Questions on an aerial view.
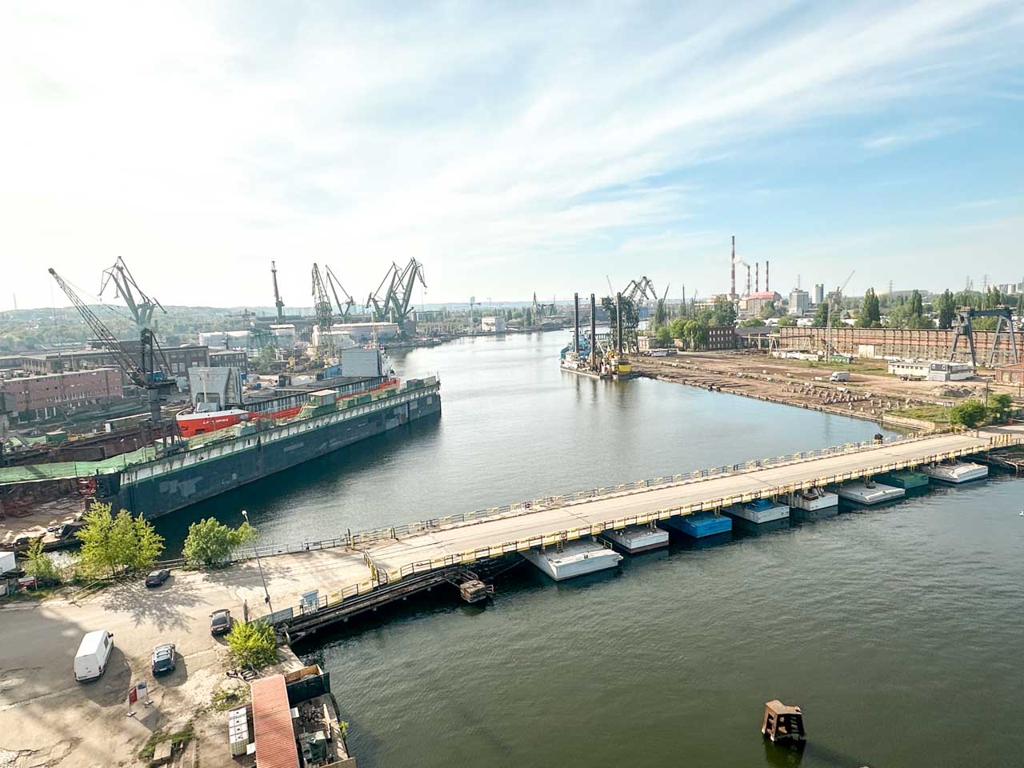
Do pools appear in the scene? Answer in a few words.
No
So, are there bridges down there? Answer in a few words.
Yes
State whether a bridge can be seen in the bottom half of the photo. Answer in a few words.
Yes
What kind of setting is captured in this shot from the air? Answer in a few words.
port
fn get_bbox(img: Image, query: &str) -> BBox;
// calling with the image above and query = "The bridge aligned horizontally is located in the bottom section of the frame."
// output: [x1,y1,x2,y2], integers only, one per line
[346,427,1018,590]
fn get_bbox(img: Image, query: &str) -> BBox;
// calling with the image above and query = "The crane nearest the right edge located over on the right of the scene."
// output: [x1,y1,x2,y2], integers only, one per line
[947,302,1021,366]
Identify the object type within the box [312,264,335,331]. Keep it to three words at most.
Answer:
crane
